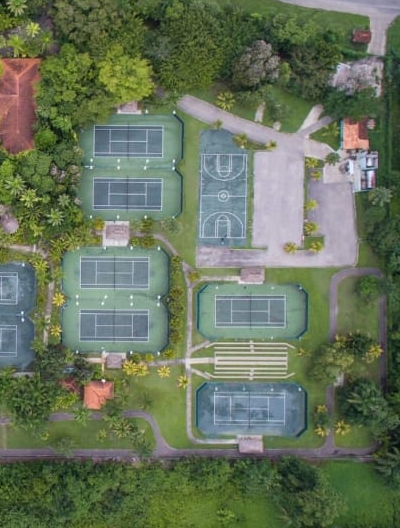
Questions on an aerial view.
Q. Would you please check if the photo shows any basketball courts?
Yes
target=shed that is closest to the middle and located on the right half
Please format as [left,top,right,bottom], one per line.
[238,267,265,283]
